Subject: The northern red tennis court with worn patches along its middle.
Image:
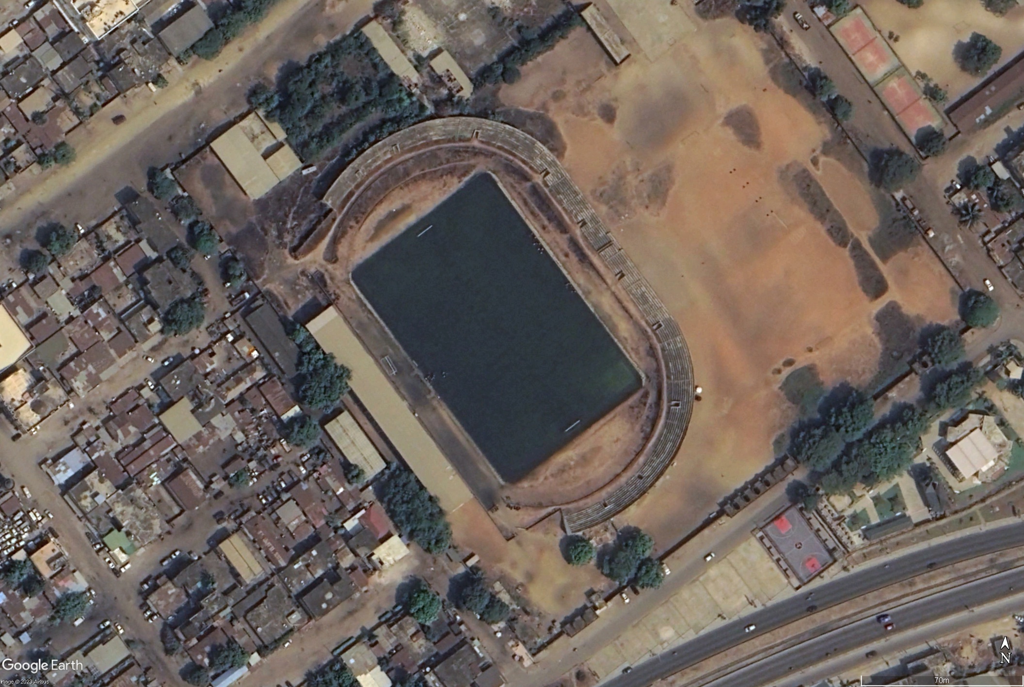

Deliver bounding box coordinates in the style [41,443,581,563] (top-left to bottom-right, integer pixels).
[830,8,900,84]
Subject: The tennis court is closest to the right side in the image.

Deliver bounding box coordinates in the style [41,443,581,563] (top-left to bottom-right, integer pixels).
[875,67,946,143]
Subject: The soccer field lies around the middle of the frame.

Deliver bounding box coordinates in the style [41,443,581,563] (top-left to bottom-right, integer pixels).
[349,169,646,487]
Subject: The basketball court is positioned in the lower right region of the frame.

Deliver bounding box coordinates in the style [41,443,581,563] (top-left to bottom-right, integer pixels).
[762,508,835,582]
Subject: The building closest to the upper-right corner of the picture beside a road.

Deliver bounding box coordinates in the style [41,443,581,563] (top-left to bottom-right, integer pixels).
[950,58,1024,130]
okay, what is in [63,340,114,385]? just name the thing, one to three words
house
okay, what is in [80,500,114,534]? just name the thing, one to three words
house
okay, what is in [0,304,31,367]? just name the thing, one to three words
building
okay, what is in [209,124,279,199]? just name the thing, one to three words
building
